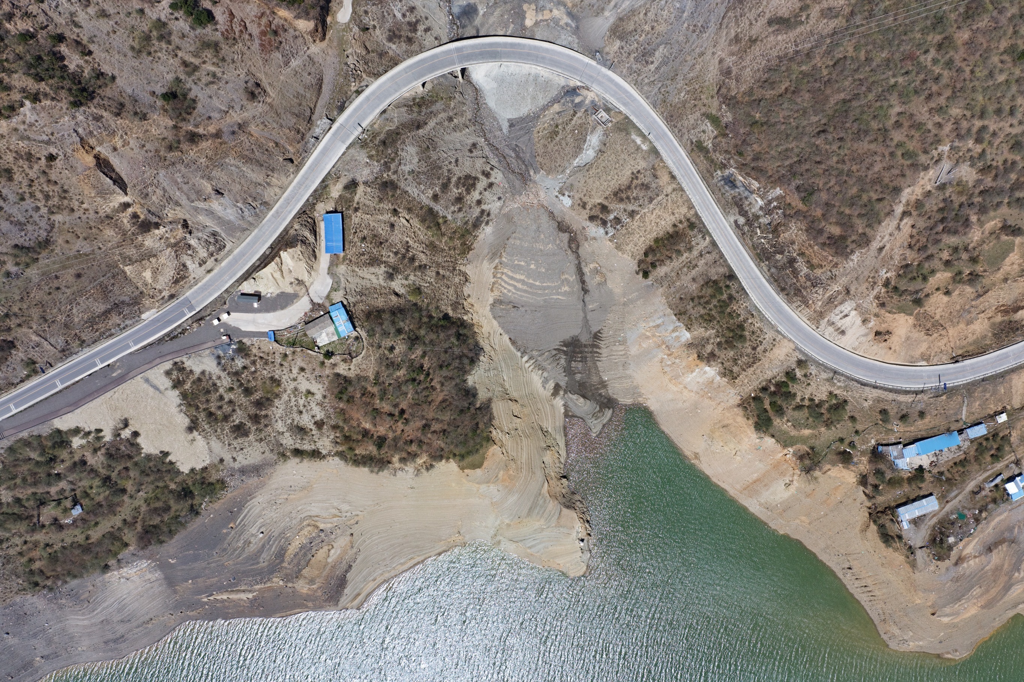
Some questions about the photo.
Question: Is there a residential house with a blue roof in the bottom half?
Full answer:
Yes, in the bottom half there is a residential house with a blue roof.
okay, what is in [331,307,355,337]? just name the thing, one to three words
house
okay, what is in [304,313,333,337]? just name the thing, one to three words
house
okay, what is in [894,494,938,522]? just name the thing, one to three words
barn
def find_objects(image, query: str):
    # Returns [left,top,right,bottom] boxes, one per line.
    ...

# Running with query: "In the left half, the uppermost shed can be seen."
[323,213,345,254]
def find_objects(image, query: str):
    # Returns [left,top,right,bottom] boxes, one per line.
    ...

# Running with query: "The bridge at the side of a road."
[328,35,613,144]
